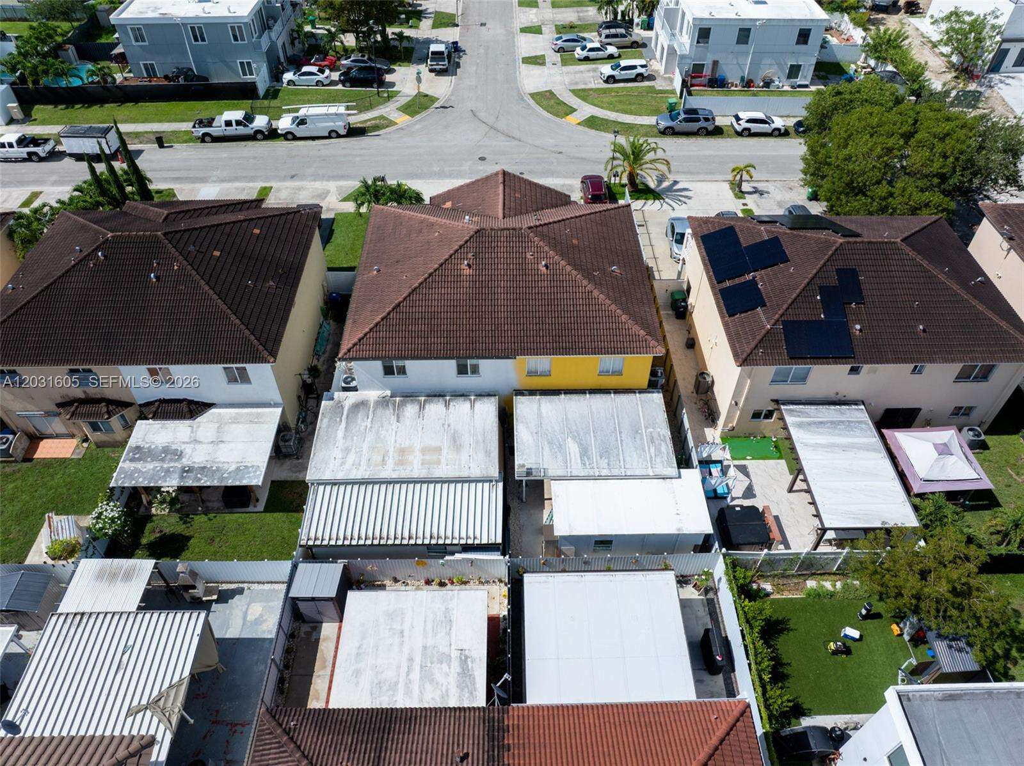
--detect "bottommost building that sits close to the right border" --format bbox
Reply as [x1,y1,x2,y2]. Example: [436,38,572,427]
[831,686,1024,766]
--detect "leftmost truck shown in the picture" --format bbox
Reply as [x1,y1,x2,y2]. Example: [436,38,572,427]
[0,129,62,160]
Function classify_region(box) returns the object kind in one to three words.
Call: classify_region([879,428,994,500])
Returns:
gazebo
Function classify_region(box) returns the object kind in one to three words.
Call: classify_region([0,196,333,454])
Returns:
house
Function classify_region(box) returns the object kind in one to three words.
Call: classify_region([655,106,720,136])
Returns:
car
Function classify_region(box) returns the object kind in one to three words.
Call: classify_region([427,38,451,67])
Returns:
truck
